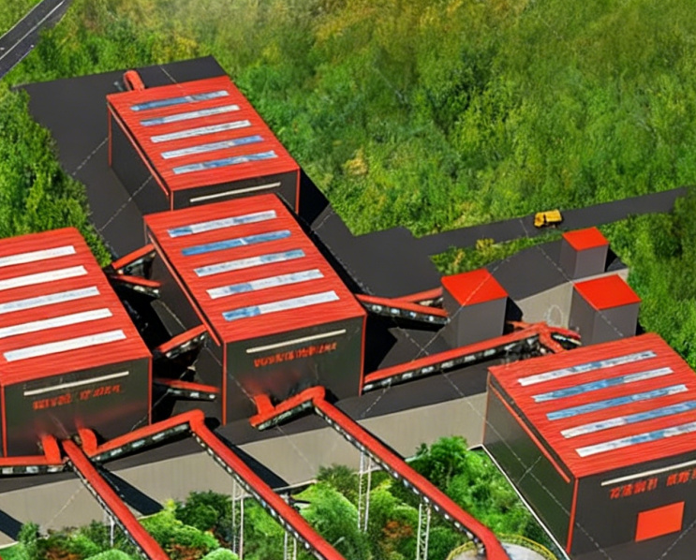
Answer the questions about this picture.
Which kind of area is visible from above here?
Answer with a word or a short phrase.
industrial area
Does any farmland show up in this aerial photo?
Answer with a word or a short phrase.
No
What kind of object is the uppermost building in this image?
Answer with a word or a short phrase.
warehouse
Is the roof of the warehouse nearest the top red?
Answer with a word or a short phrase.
Yes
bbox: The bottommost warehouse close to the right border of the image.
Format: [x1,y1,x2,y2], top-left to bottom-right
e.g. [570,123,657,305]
[482,332,696,553]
